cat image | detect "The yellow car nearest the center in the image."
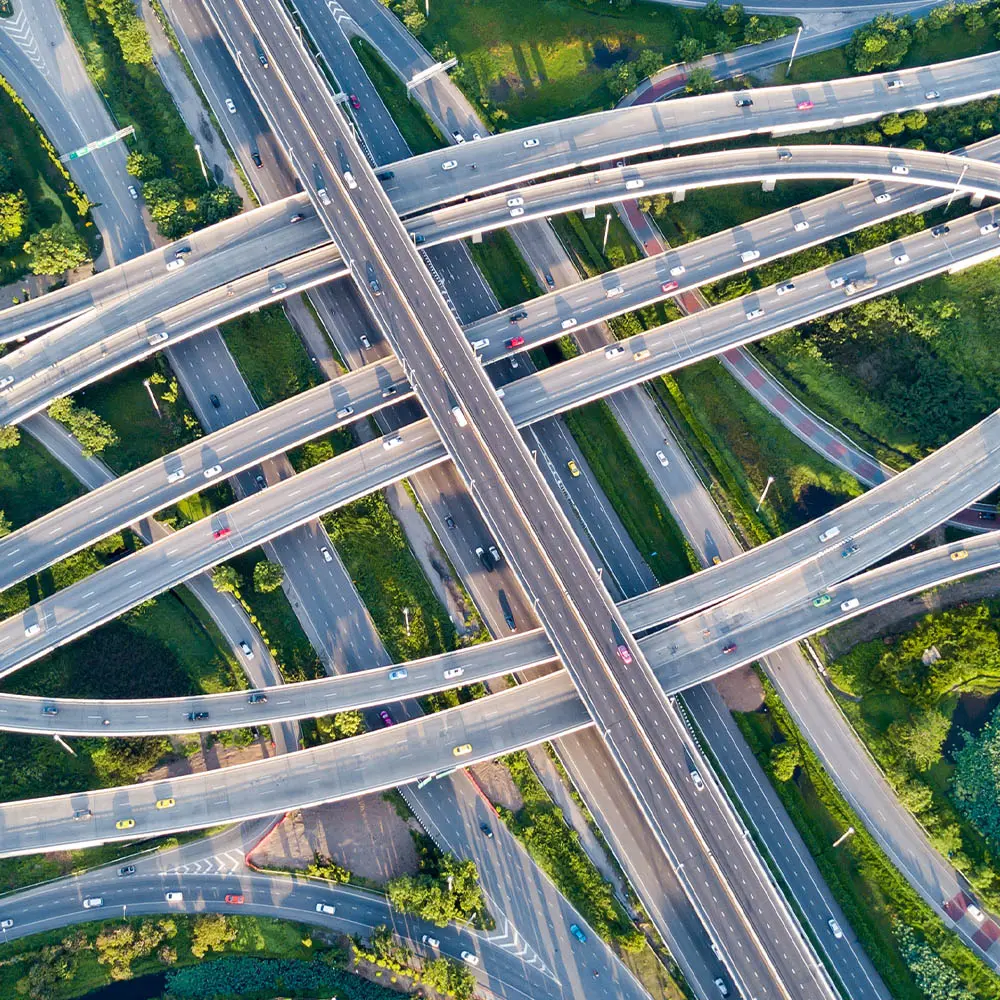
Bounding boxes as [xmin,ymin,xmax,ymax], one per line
[567,460,580,477]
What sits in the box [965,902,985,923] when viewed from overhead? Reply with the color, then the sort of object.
white vehicle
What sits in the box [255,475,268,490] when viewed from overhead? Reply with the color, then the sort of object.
blue vehicle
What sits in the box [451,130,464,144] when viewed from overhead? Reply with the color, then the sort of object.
white vehicle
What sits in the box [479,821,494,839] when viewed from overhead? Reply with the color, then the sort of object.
blue car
